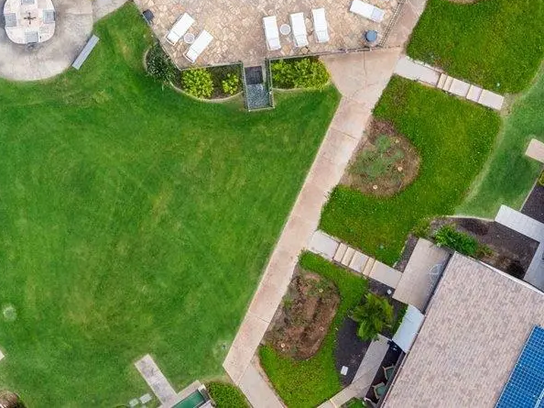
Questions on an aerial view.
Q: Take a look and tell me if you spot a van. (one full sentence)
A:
No, I can see no van in this picture.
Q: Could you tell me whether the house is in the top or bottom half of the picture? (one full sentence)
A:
The house is in the bottom half of the image.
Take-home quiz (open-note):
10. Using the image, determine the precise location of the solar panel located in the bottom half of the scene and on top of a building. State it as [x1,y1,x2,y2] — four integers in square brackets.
[497,327,544,408]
